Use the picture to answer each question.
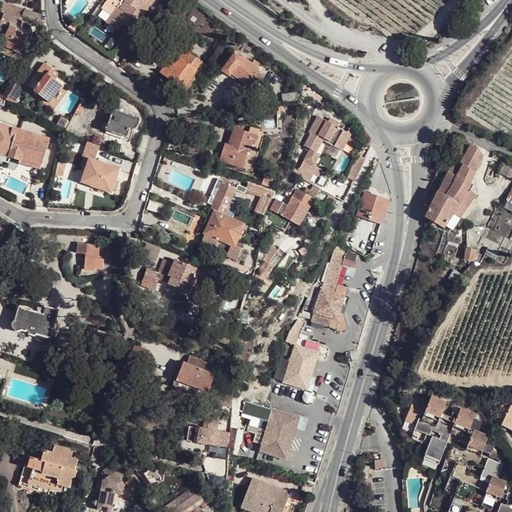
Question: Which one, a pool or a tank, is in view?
pool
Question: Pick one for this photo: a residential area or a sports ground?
residential area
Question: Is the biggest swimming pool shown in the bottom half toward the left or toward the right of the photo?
left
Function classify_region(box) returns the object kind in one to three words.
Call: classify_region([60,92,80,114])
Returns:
swimming pool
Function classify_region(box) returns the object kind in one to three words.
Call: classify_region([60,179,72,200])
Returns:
swimming pool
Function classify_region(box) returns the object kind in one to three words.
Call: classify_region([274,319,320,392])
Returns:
building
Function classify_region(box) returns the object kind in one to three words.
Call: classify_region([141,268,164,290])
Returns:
house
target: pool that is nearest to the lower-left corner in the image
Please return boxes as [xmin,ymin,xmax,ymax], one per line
[6,378,47,406]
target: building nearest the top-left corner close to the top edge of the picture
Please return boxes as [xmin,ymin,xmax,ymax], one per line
[2,2,42,48]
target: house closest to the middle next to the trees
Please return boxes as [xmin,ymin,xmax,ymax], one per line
[258,244,282,280]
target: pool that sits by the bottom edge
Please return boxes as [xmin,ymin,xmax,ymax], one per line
[407,478,422,508]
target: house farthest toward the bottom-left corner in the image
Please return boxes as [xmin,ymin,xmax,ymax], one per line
[26,444,77,492]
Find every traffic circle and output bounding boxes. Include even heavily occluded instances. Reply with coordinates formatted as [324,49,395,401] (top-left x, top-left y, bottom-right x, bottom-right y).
[363,62,442,140]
